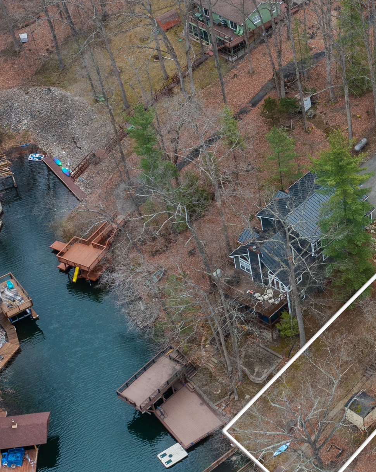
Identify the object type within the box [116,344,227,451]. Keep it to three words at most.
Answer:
pier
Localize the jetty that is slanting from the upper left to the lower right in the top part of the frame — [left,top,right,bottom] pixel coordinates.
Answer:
[43,156,86,203]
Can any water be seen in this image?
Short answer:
Yes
